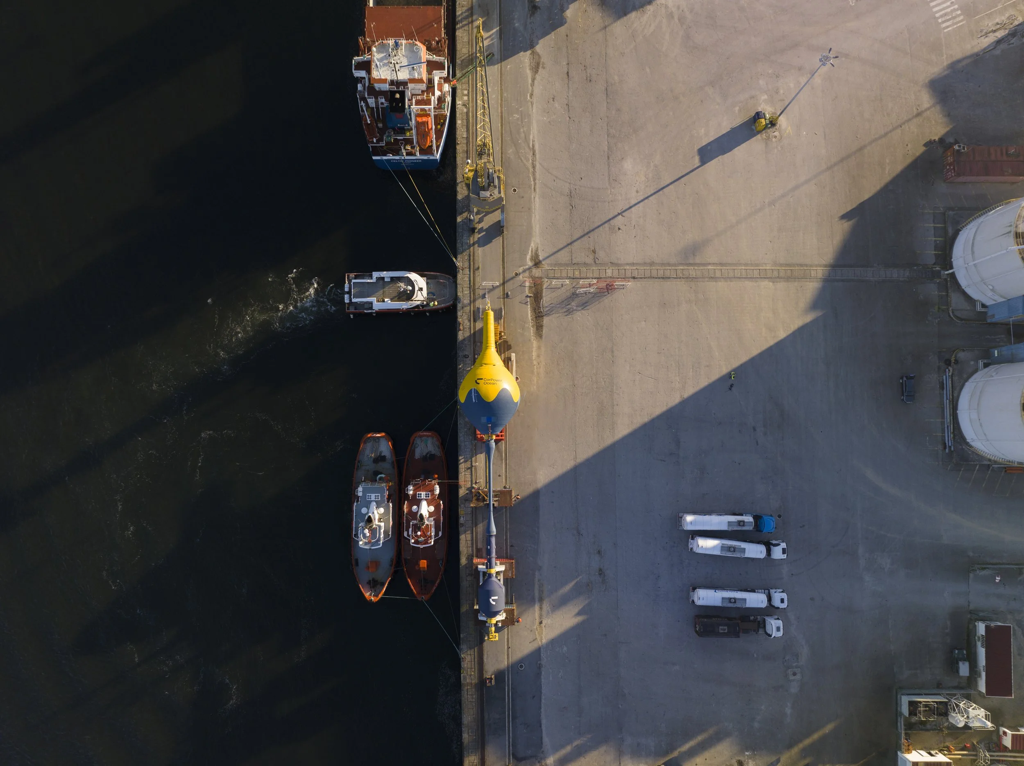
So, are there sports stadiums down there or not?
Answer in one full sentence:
No, the photo shows no sports stadium.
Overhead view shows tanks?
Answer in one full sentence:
Yes, the photo shows a tank.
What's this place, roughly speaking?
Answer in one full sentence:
This image shows a port.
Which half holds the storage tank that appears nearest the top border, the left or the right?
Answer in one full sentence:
The storage tank that appears nearest the top border is on the right side of the image.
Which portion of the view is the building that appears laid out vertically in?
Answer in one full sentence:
The building that appears laid out vertically is located in the bottom right region of the scene.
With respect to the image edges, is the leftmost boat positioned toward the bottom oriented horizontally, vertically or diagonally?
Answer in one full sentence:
From this overhead view, the leftmost boat positioned toward the bottom appears to run vertically.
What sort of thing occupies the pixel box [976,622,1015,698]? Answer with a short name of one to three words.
building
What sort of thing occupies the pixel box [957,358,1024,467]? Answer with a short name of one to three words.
storage tank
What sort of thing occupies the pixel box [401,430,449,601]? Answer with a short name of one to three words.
boat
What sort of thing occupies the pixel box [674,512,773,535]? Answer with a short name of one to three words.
truck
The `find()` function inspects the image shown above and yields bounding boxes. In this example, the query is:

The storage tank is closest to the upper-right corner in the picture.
[945,189,1024,304]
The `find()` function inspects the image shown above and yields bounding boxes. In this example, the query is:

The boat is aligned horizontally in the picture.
[345,271,455,316]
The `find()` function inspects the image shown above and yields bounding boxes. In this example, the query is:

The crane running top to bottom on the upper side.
[464,12,507,235]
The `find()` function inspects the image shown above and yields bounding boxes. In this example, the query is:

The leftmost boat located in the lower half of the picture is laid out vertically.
[352,432,400,603]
